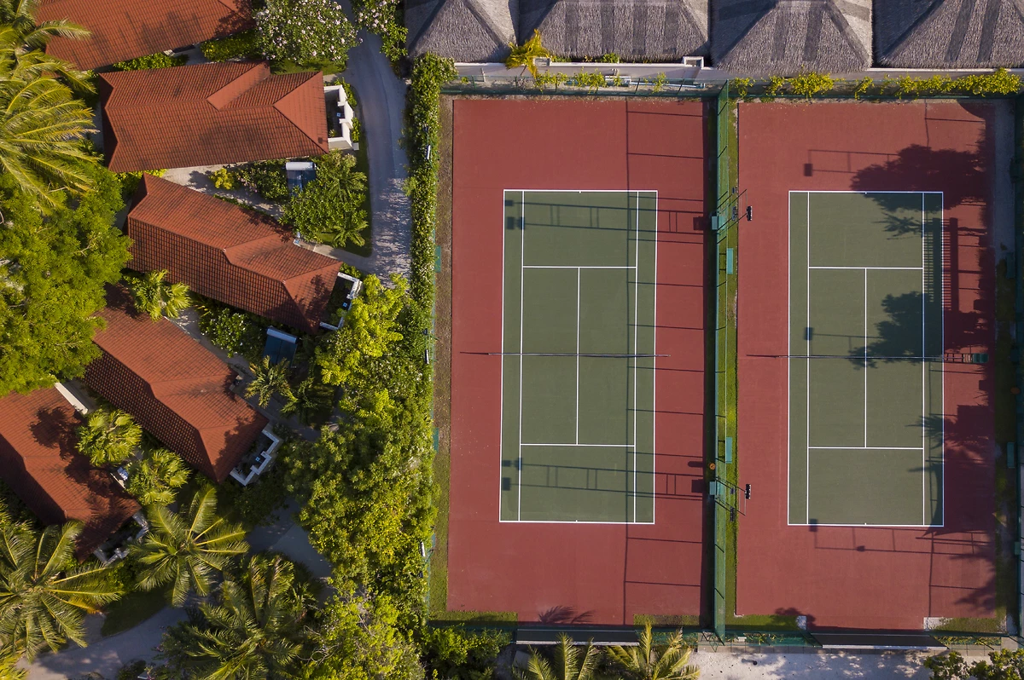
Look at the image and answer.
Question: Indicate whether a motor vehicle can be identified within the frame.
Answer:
No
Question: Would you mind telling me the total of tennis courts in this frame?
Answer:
2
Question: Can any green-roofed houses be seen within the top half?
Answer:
No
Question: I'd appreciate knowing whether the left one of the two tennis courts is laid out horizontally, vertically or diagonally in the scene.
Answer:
vertically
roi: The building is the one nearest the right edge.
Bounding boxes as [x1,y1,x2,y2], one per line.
[872,0,1024,69]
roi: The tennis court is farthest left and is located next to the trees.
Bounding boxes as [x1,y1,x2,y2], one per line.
[449,99,708,628]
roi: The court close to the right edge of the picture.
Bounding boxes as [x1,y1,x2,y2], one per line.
[736,102,996,630]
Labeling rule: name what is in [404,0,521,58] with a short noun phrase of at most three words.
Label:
building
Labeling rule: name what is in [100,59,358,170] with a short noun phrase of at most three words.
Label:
house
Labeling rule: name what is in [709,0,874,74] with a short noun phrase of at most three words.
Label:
building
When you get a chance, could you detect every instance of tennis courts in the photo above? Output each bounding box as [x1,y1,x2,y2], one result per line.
[736,102,996,630]
[449,99,708,628]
